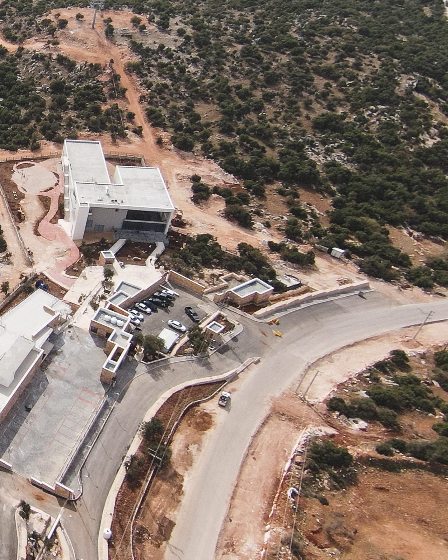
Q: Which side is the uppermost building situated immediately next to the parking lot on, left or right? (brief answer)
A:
left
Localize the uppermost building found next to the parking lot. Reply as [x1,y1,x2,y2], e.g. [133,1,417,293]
[58,139,175,239]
